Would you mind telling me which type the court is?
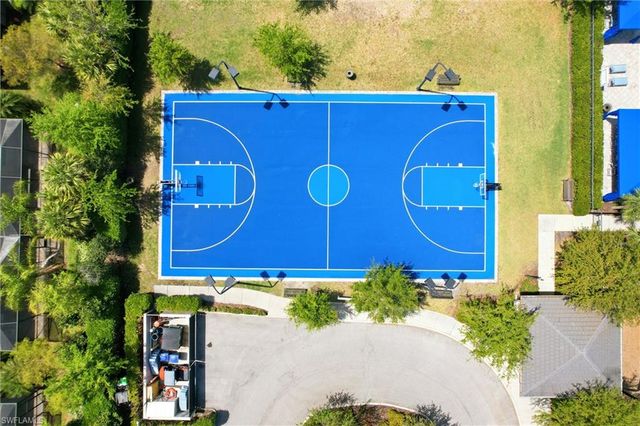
basketball court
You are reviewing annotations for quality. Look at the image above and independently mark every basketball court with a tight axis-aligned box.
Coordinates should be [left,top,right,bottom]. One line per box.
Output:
[158,90,498,283]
